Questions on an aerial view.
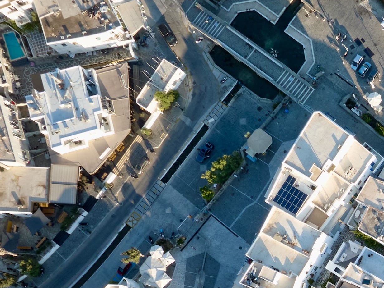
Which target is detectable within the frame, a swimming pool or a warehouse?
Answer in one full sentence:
Visible in the photo is a swimming pool.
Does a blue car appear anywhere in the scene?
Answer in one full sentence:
Yes, looking at the shot, I can spot a blue car.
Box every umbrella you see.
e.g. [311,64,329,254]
[247,128,272,153]
[368,92,382,106]
[140,254,166,280]
[151,271,175,288]
[139,273,153,286]
[161,248,179,269]
[149,245,165,257]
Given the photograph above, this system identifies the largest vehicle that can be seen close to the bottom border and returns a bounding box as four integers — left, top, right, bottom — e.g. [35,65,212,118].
[116,262,137,279]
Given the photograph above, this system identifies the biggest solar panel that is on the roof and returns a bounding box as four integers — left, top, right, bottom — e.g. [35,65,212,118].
[271,174,308,213]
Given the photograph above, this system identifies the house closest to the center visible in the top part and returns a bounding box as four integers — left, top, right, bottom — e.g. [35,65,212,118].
[138,58,196,120]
